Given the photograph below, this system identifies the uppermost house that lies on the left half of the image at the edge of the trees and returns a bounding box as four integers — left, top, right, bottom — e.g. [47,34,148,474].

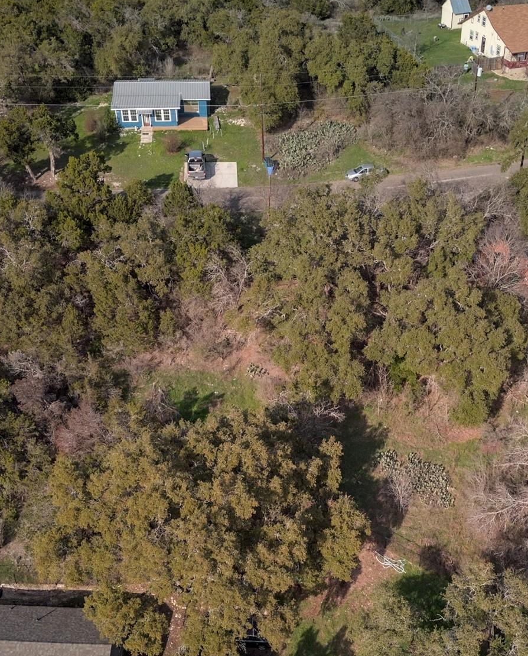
[111,79,216,141]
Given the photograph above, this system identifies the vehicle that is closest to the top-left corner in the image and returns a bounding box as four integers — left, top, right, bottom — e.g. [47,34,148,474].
[184,151,208,180]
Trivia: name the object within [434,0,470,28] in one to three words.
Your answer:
shed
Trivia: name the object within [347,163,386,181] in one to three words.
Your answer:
car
